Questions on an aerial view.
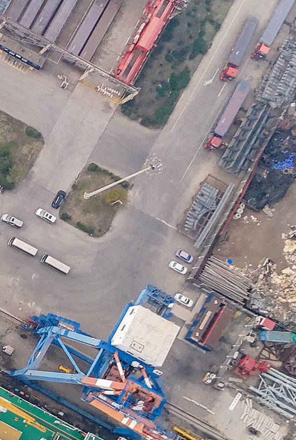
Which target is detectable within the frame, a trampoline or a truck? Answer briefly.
truck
